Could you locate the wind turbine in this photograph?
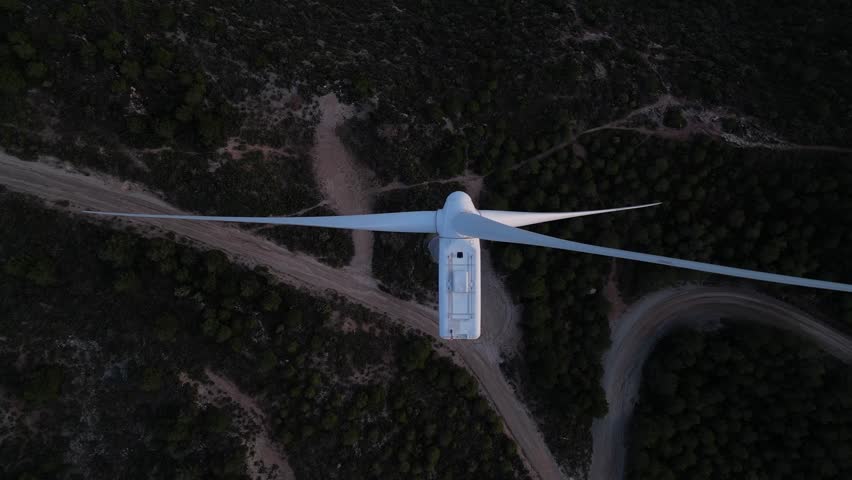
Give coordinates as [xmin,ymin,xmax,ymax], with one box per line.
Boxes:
[89,192,852,339]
